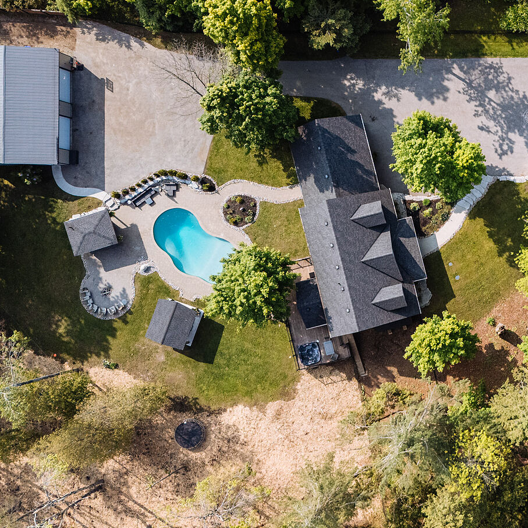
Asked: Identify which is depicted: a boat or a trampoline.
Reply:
trampoline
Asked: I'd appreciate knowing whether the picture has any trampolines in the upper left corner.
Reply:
No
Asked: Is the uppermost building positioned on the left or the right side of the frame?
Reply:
left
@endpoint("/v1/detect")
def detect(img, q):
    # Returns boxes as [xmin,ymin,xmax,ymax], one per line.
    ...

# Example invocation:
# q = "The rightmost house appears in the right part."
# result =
[284,115,428,338]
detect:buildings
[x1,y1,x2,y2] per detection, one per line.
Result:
[146,298,205,350]
[0,44,73,166]
[63,208,126,257]
[284,115,428,338]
